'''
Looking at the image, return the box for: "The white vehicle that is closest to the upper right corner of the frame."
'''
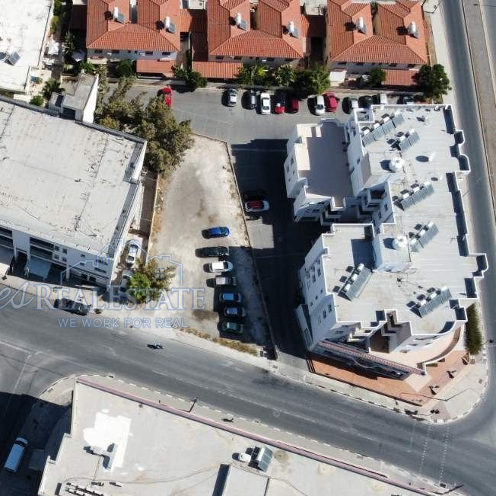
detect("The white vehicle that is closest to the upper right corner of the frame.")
[376,88,390,106]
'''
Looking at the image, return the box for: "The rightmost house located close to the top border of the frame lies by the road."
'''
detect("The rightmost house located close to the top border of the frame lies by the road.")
[318,0,427,81]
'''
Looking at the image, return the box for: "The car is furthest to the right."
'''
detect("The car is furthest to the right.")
[400,88,414,106]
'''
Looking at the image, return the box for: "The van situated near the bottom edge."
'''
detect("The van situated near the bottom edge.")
[0,435,30,476]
